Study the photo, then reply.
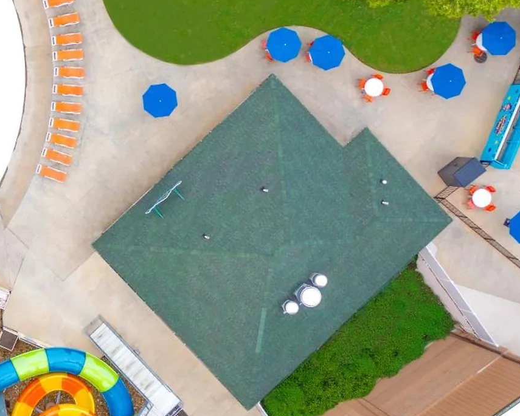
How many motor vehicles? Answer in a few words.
zero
